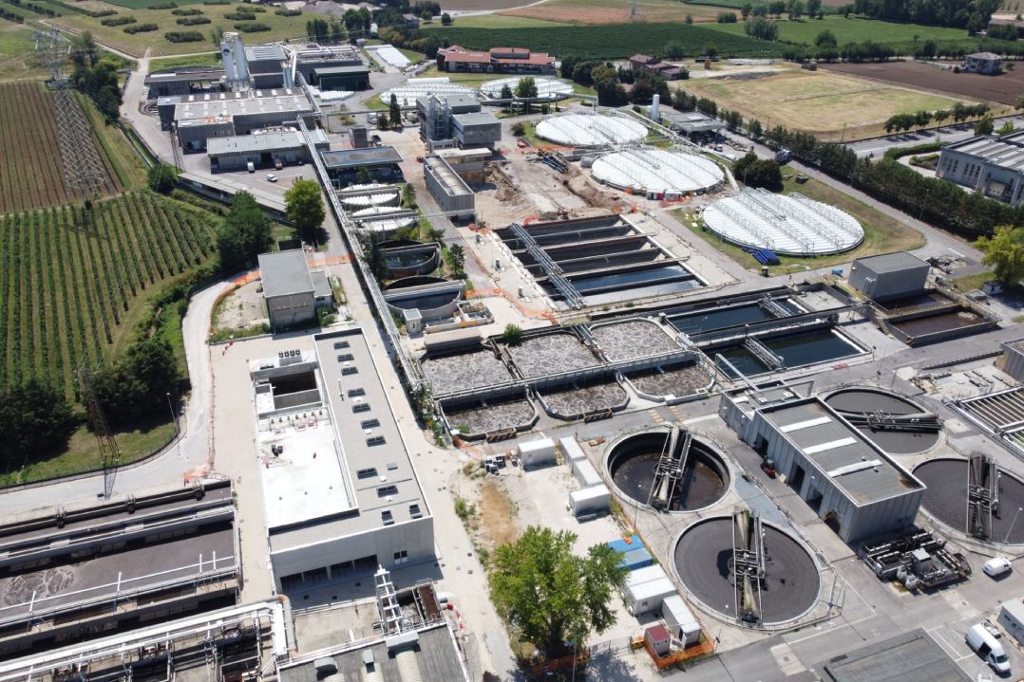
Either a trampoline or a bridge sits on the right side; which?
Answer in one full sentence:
It is a bridge that can be seen on the right side.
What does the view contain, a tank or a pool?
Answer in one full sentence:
It is a tank that can be seen here.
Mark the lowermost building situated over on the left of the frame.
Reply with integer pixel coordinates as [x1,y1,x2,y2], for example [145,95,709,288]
[309,615,470,682]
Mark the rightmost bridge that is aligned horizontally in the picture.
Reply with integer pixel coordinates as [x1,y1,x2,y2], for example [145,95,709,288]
[831,408,945,429]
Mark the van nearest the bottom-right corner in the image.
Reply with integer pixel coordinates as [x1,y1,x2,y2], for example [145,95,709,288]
[964,624,1013,673]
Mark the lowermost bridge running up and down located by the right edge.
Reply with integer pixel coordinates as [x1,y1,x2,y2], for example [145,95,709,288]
[961,451,993,550]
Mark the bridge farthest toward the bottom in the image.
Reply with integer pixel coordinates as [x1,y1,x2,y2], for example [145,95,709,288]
[728,510,761,633]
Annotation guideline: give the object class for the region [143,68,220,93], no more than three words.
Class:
shed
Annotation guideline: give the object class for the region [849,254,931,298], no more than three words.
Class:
building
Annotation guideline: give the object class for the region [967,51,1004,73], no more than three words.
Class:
house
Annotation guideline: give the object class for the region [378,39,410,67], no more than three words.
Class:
greenhouse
